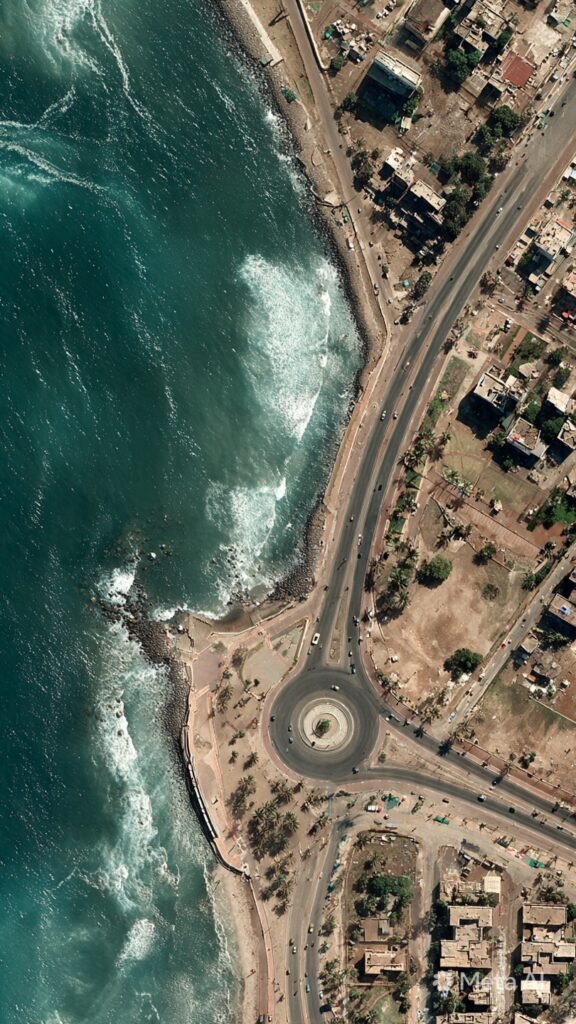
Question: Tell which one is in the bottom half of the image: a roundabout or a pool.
roundabout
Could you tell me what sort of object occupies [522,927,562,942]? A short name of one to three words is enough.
house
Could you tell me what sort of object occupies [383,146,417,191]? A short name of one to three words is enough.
building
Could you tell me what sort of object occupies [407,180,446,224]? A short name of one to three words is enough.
building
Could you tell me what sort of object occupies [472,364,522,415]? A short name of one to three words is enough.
house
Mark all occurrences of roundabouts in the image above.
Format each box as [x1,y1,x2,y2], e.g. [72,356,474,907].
[269,667,383,782]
